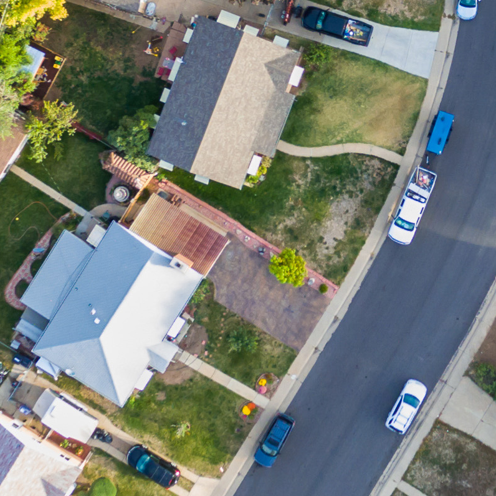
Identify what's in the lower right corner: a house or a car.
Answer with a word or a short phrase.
car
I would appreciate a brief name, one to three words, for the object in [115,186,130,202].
fountain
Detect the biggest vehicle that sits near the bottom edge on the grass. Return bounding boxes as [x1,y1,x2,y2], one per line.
[125,445,183,492]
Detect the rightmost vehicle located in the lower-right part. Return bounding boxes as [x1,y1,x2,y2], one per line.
[385,372,425,436]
